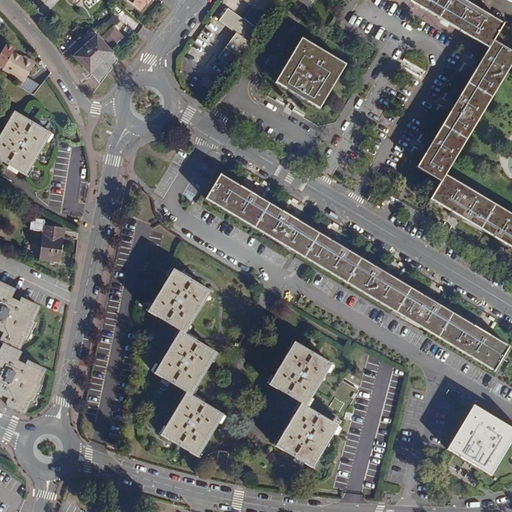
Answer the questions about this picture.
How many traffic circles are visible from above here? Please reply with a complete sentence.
The photo contains 2 traffic circles.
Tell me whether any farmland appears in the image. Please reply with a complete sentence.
No, there is no farmland in the image.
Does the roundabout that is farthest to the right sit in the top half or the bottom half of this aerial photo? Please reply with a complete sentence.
Seen from above, the roundabout that is farthest to the right lies in the top half of the view.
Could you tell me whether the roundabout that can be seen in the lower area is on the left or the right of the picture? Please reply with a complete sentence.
The roundabout that can be seen in the lower area sits on the left side.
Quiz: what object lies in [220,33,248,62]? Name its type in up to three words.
building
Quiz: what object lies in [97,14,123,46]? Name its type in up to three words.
house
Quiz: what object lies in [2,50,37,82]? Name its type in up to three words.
house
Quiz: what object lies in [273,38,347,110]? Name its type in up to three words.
building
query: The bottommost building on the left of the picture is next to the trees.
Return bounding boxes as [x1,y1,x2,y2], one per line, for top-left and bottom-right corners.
[158,392,227,458]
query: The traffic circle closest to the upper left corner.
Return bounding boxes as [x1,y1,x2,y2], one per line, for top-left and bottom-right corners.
[117,72,177,132]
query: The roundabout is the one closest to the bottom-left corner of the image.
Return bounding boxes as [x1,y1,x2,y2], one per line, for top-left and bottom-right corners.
[18,420,76,478]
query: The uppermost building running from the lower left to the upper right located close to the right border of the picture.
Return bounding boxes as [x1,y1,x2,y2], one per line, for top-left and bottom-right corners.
[414,42,512,182]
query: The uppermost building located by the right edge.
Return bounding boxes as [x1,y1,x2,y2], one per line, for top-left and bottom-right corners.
[404,0,505,49]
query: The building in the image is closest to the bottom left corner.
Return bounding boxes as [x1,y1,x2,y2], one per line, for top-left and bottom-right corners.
[0,341,47,414]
